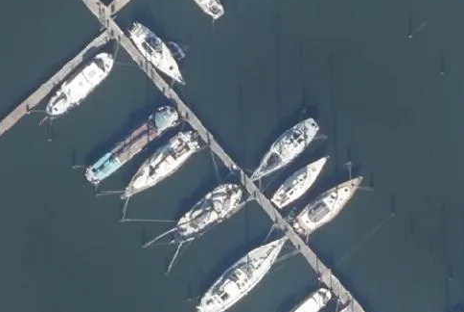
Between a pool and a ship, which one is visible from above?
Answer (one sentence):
I can see a ship in this picture.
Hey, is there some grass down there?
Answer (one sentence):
No, grass can't be seen anywhere here.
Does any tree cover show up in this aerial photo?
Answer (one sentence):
No, there's no tree cover in this view.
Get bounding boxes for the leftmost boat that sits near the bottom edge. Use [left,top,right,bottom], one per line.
[197,237,289,312]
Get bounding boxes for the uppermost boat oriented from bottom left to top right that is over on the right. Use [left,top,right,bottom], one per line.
[252,118,329,179]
